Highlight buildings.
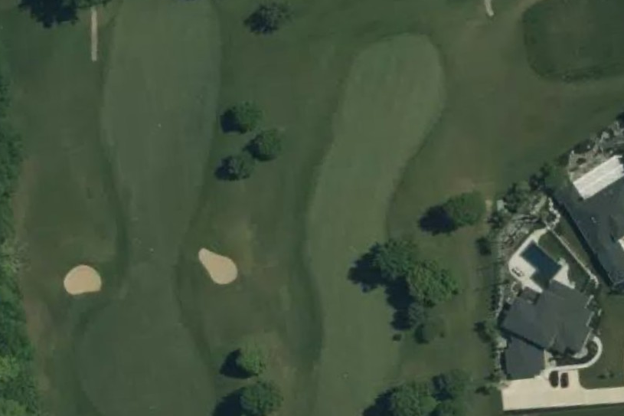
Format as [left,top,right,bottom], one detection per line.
[562,155,624,286]
[502,281,595,383]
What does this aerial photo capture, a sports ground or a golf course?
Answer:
golf course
